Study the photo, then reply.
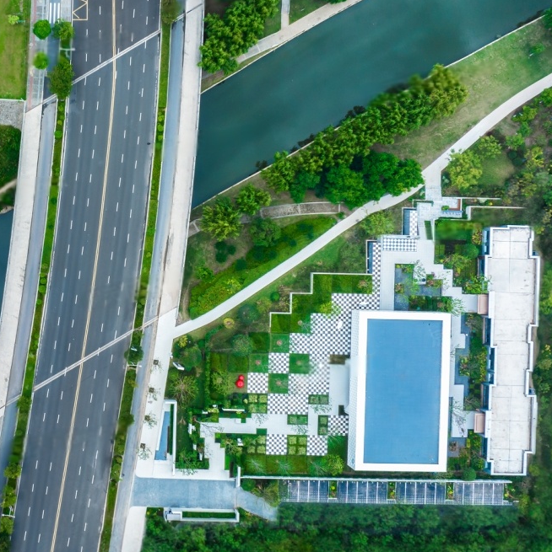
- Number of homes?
2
